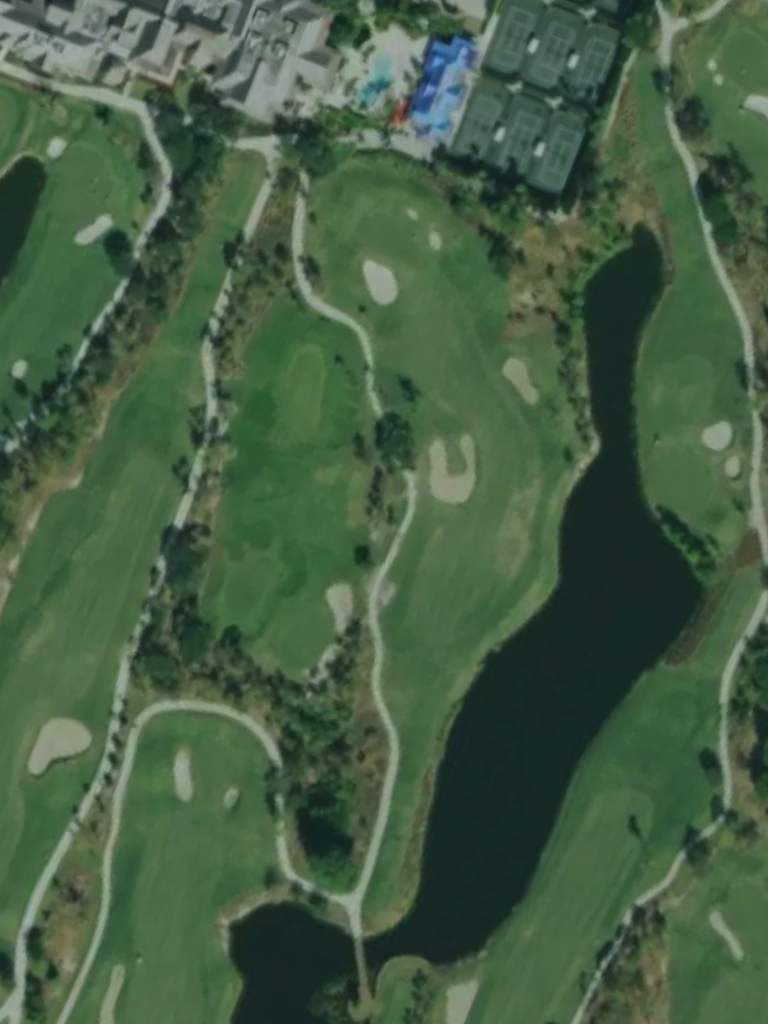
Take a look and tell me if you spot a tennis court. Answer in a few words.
Yes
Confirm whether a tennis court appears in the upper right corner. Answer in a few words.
Yes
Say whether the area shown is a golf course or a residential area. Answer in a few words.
golf course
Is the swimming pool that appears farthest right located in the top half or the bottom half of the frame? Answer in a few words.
top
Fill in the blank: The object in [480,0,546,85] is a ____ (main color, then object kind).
green tennis court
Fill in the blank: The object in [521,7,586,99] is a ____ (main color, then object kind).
green tennis court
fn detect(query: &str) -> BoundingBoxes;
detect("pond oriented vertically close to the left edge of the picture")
[0,155,47,283]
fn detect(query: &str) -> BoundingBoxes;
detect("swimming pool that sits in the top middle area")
[357,52,395,109]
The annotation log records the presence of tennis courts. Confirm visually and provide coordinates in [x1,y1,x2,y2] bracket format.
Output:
[527,111,593,203]
[521,7,586,99]
[480,0,546,85]
[560,0,594,12]
[489,96,553,187]
[561,22,624,115]
[449,80,513,168]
